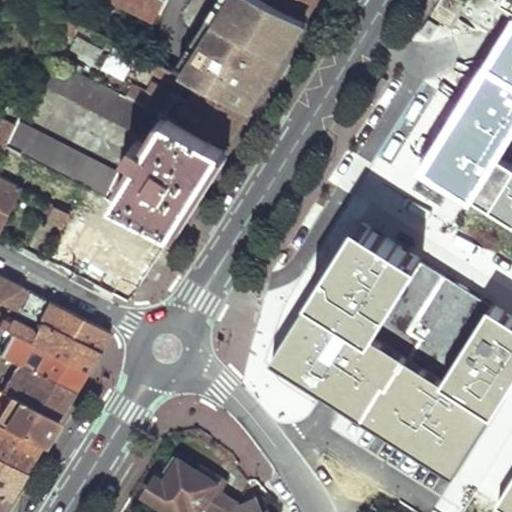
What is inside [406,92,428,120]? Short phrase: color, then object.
white vehicle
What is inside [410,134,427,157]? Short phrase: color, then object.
white car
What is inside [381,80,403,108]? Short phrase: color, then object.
white vehicle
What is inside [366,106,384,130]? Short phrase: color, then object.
white car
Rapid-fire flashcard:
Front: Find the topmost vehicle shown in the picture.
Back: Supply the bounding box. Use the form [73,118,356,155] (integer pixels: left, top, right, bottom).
[450,60,471,75]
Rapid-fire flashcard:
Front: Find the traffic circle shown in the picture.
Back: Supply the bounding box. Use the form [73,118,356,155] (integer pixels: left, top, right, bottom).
[110,291,236,422]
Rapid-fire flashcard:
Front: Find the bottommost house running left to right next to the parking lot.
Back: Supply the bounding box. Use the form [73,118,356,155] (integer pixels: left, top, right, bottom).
[132,452,262,512]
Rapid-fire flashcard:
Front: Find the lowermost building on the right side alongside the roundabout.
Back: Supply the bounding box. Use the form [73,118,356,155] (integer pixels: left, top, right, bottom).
[268,226,512,480]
